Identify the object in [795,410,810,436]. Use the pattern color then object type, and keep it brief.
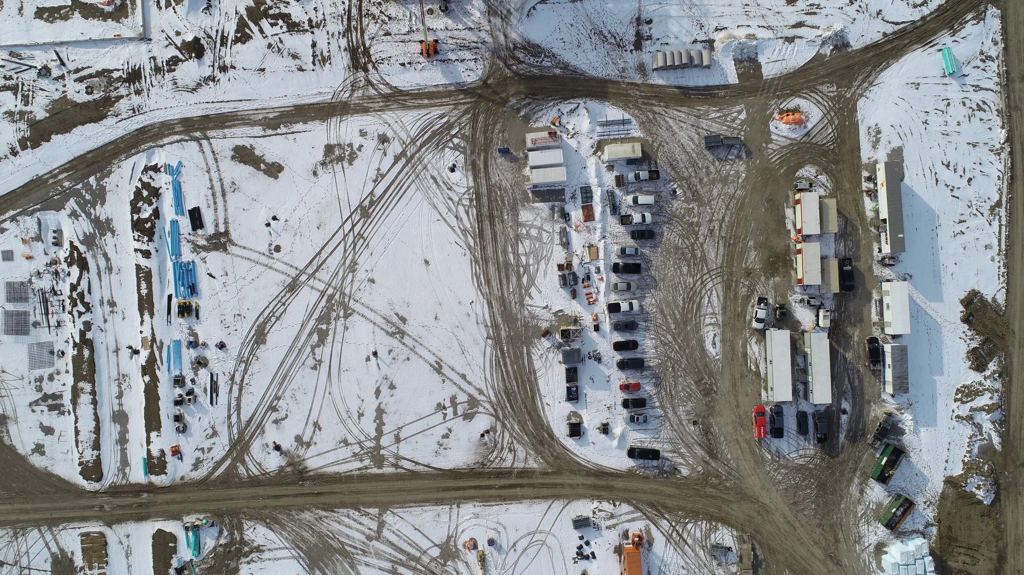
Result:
black car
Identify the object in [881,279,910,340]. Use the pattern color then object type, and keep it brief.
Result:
white trailer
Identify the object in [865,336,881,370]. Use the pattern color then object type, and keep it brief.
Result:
black vehicle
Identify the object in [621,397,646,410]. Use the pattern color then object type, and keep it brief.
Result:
black vehicle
